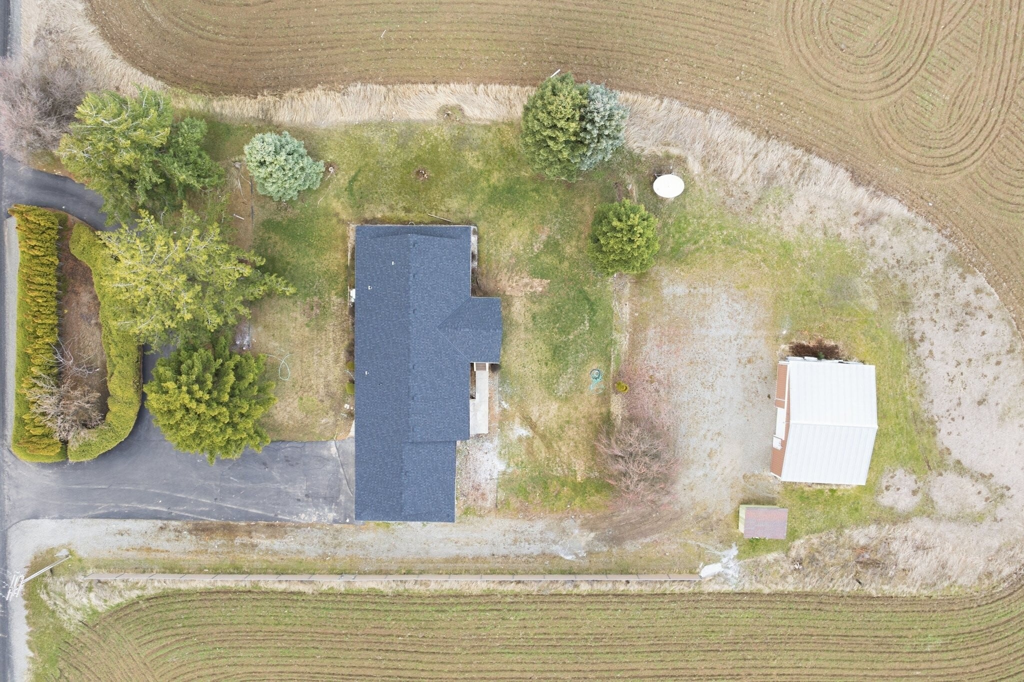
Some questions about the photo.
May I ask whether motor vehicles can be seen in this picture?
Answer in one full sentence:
No, this view has no motor vehicle in it.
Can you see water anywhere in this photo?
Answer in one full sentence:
No, water can't be seen anywhere here.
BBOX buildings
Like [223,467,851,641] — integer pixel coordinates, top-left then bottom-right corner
[770,360,880,486]
[739,505,789,539]
[354,225,502,522]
